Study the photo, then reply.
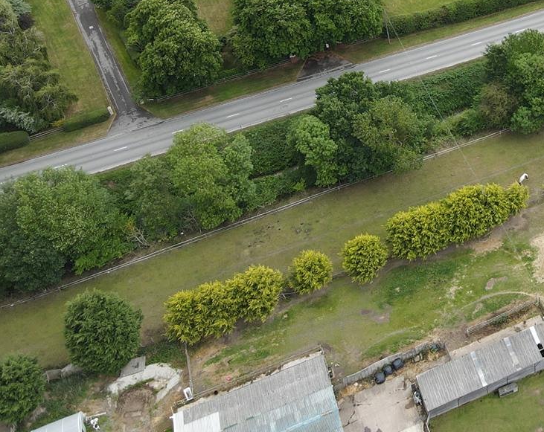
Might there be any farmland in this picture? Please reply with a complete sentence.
Yes, there's farmland in this view.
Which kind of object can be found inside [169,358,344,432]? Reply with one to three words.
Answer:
barn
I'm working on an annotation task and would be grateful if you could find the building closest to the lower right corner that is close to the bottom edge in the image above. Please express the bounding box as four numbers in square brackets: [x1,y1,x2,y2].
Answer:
[416,322,544,420]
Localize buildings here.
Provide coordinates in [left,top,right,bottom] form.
[416,322,544,420]
[169,358,344,432]
[38,408,90,432]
